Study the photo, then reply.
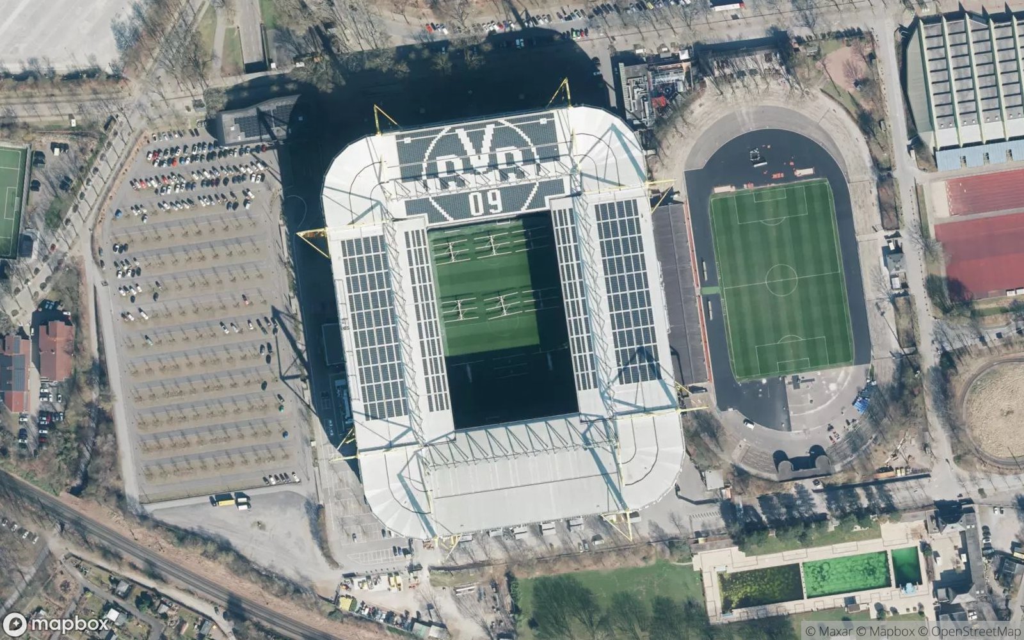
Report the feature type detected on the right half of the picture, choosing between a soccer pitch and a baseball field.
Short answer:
soccer pitch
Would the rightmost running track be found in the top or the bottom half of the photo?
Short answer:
top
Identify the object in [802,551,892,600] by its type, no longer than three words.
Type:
swimming pool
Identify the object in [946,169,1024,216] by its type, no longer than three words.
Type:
running track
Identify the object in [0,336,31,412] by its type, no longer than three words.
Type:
house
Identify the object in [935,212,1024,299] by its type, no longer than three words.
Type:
sports court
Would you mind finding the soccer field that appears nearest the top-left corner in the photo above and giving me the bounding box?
[0,142,30,262]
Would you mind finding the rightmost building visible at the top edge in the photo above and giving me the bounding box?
[907,11,1024,152]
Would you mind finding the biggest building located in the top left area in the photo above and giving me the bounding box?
[221,95,304,150]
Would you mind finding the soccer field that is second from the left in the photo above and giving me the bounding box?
[428,210,578,430]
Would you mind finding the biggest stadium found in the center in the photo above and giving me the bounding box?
[297,78,709,566]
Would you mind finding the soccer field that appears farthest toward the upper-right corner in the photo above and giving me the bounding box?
[708,179,856,383]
